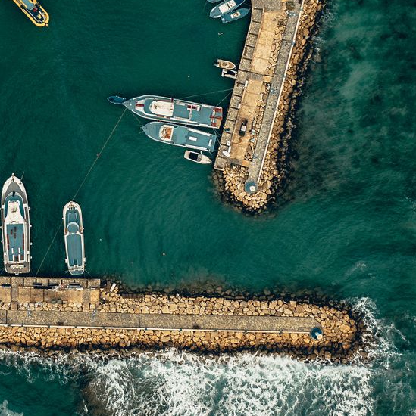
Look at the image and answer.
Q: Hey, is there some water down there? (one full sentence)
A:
Yes, there is water in the image.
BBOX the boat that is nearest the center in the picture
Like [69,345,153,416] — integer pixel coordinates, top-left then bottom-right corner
[182,150,211,163]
